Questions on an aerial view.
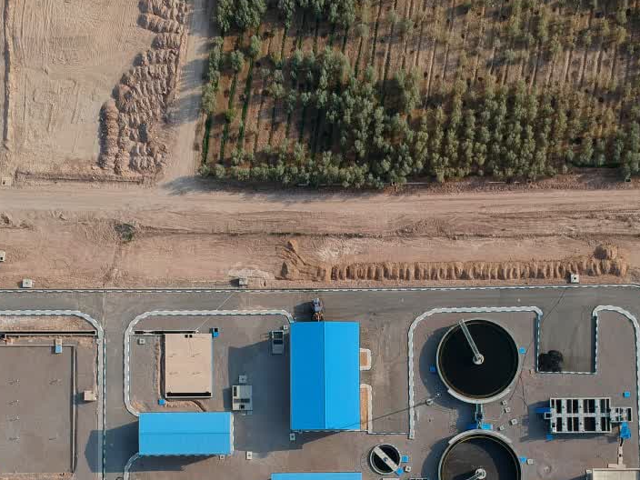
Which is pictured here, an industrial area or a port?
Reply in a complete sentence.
The picture captures an industrial area.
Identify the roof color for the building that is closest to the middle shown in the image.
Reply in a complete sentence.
From above, the roof of the building that is closest to the middle looks blue.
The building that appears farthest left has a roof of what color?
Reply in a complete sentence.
The roof over the building that appears farthest left appears blue.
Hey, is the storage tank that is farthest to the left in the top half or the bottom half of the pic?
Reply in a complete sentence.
The storage tank that is farthest to the left sits in the bottom half of the picture.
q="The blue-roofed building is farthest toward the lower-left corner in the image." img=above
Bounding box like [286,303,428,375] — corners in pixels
[138,412,234,455]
